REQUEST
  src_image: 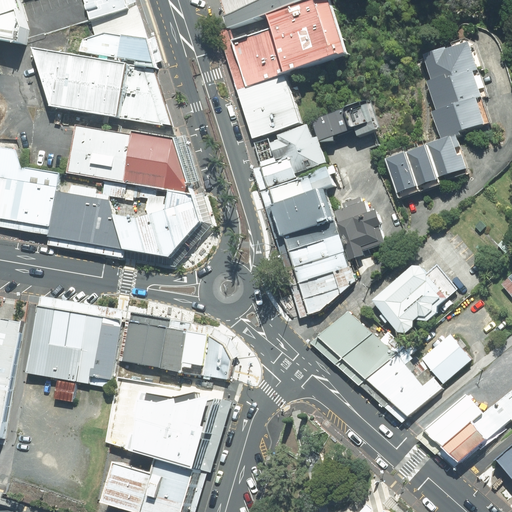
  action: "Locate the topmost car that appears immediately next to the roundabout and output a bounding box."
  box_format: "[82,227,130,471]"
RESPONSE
[197,265,214,277]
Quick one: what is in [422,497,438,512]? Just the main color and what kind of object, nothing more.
white car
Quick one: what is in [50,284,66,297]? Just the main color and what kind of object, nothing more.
gray vehicle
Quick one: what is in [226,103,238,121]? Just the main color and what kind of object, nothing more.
white vehicle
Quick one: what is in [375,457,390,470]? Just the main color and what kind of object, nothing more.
white vehicle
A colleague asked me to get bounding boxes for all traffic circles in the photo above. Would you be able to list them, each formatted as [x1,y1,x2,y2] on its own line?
[213,273,244,304]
